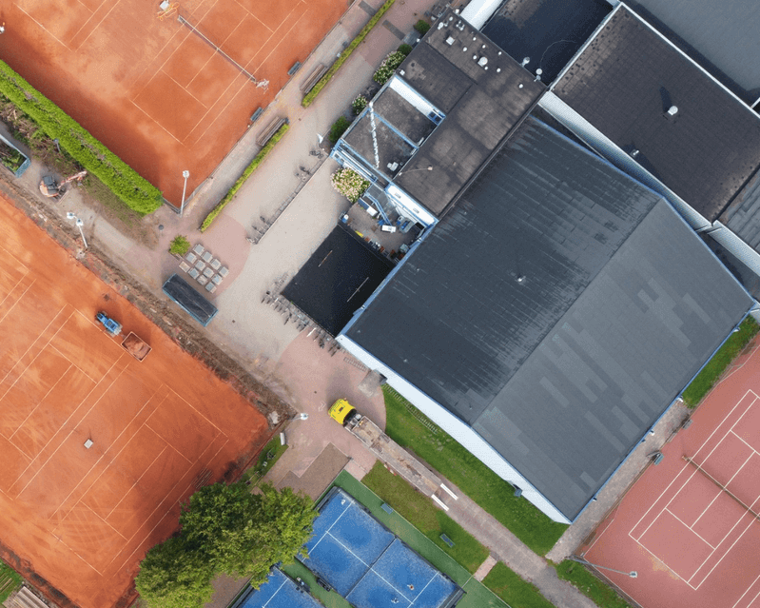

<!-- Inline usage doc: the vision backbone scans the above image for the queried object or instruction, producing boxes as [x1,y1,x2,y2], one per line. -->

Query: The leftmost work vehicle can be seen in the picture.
[42,167,78,198]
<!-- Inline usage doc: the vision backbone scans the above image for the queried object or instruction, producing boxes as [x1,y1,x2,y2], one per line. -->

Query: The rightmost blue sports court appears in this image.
[295,488,471,608]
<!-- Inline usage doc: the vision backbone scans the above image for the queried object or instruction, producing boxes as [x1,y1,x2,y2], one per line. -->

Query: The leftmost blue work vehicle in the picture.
[96,312,123,336]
